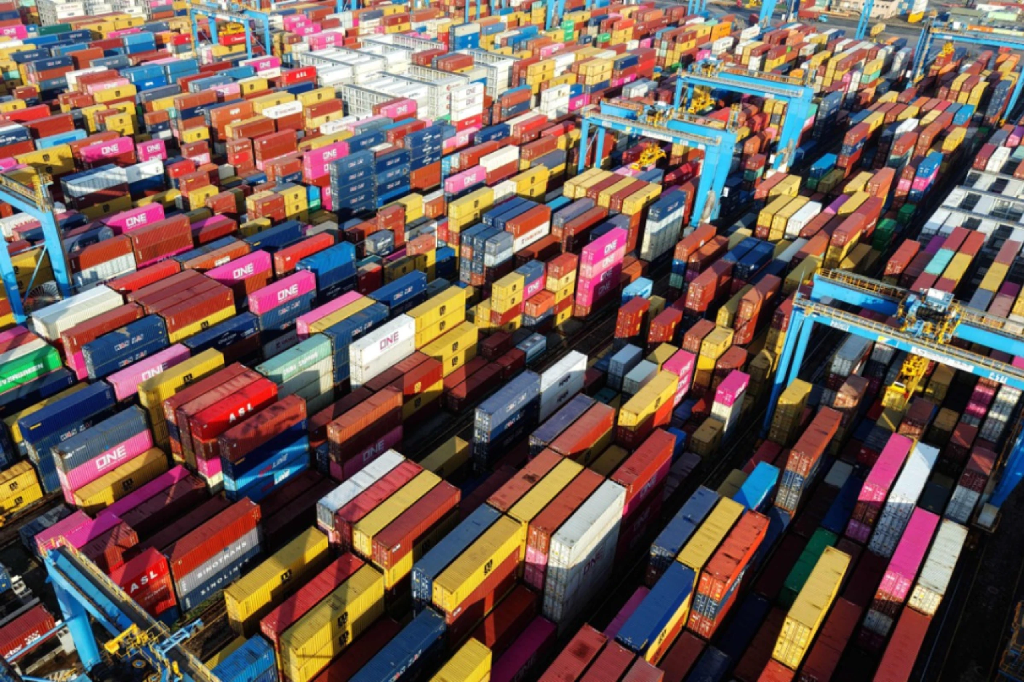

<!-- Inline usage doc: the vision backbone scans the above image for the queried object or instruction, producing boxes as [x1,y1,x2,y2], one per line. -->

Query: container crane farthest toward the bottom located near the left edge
[0,529,296,682]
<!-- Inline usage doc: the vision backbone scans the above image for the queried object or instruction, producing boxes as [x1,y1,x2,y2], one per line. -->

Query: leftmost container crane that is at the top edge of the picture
[186,0,282,101]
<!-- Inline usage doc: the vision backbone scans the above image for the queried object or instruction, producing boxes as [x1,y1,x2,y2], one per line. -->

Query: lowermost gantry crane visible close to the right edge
[754,272,1024,538]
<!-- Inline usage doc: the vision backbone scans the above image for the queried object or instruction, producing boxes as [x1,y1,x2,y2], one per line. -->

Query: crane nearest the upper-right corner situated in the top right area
[906,15,1024,120]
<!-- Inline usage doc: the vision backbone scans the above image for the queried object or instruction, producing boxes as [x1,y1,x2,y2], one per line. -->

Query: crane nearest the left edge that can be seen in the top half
[0,169,73,329]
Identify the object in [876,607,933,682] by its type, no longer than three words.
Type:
shipping container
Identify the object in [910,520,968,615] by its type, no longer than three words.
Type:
shipping container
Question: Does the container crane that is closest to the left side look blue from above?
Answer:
Yes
